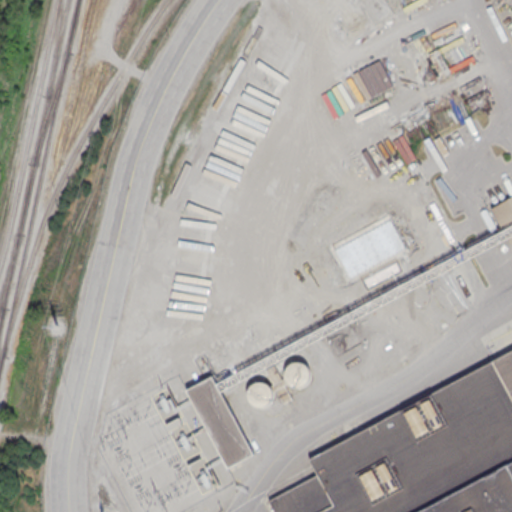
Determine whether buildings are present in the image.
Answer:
Yes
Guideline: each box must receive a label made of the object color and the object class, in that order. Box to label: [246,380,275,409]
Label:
white storage tank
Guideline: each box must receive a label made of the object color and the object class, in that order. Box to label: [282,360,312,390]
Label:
white storage tank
